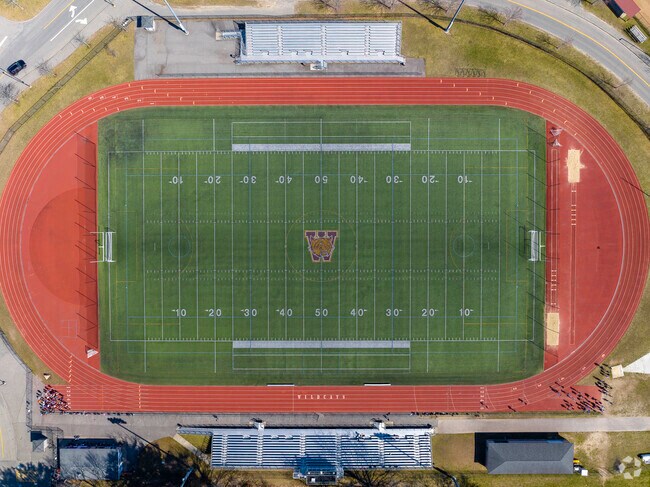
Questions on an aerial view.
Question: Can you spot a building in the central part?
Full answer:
No, no building is visible in the central part.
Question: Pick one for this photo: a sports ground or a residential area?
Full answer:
The picture captures a sports ground.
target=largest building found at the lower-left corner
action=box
[59,444,125,479]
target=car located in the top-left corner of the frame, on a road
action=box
[4,58,25,74]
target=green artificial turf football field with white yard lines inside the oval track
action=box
[98,105,546,386]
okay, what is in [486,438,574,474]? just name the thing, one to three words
building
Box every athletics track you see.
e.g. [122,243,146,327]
[0,79,649,413]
